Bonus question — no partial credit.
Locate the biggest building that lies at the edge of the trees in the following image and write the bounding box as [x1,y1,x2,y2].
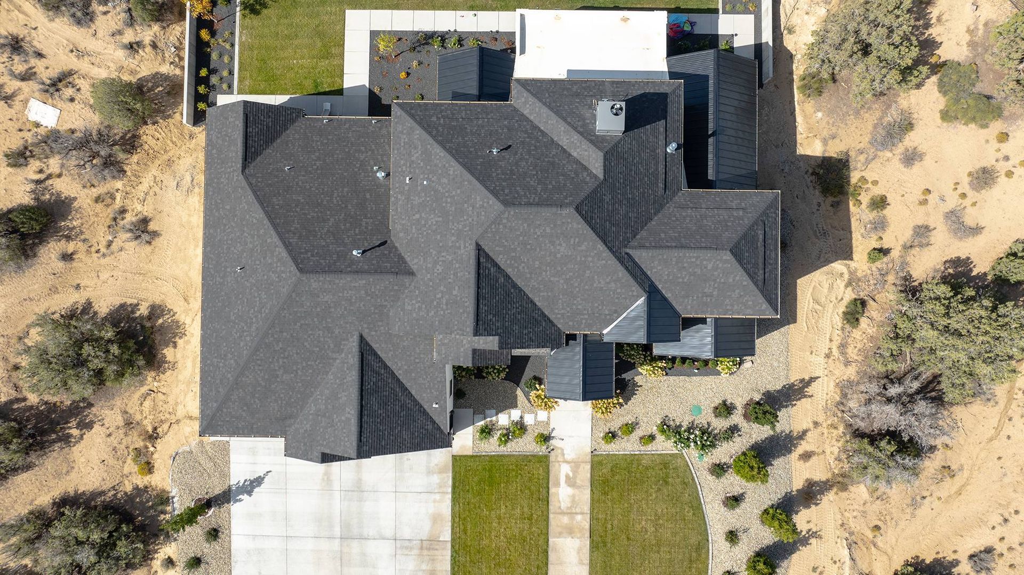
[197,9,783,464]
